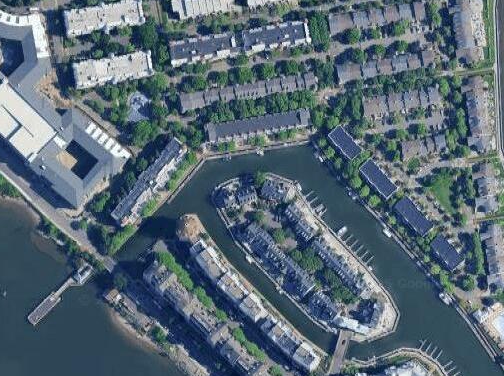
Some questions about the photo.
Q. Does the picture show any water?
Yes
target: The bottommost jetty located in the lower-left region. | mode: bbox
[28,262,95,325]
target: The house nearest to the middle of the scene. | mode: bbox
[237,178,257,205]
